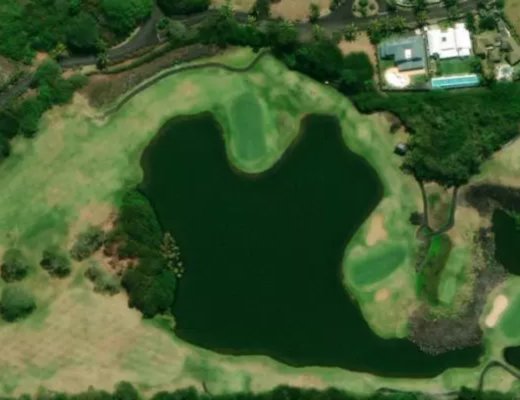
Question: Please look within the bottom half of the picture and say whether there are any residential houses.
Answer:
No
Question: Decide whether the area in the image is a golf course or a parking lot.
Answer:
golf course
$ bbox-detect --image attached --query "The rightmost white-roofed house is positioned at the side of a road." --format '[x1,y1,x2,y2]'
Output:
[427,22,472,58]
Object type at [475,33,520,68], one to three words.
house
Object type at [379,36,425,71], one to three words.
house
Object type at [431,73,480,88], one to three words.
swimming pool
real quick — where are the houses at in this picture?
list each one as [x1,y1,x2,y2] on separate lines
[379,36,425,71]
[427,22,472,58]
[475,33,520,68]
